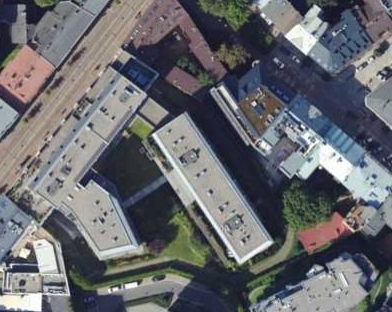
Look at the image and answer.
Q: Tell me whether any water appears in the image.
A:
No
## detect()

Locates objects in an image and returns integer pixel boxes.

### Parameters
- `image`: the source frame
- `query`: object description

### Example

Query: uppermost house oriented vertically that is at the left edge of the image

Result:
[12,6,27,45]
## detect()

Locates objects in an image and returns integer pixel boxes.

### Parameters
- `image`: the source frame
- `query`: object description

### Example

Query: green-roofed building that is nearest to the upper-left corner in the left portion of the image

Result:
[127,118,154,140]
